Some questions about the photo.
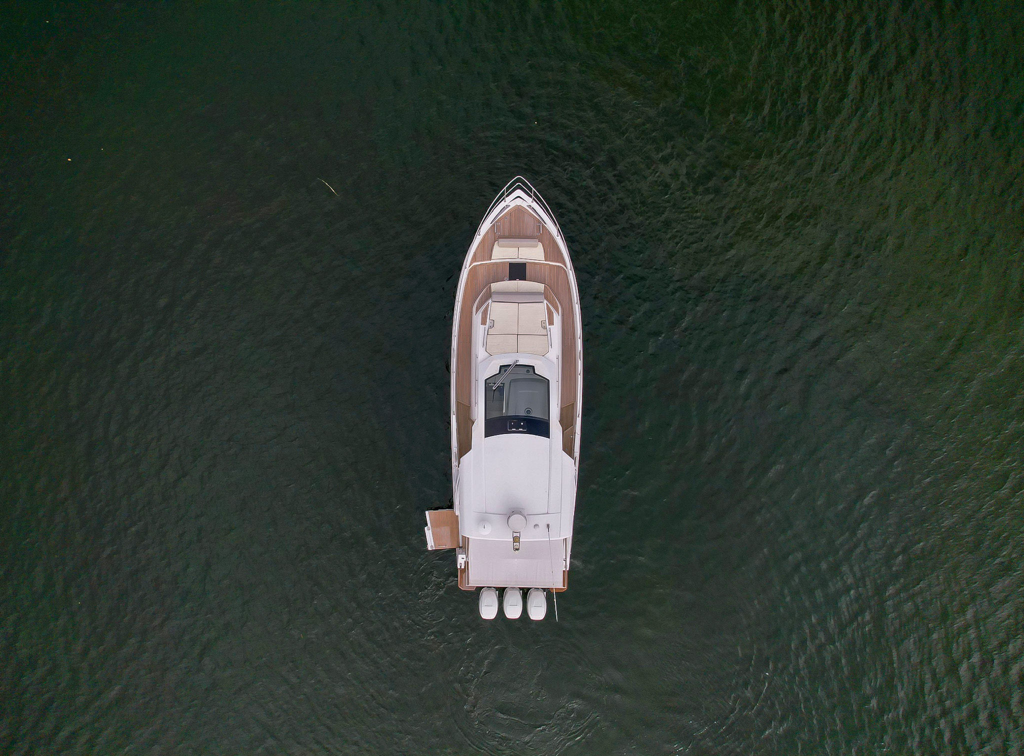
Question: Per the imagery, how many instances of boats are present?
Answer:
one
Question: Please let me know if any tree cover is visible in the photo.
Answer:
No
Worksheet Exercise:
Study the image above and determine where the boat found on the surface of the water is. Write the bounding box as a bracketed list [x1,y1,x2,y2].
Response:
[425,175,583,621]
